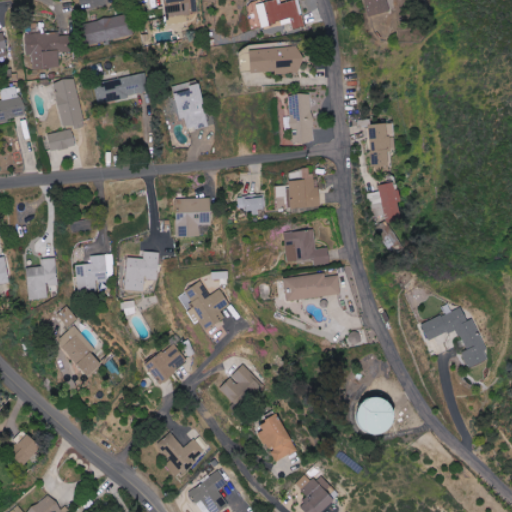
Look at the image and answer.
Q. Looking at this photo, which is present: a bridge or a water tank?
water tank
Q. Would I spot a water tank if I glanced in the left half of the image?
No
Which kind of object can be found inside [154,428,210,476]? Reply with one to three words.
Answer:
house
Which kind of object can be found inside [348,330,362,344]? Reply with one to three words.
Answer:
gazebo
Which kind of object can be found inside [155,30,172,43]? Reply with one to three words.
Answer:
swimming pool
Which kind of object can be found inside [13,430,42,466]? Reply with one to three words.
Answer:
house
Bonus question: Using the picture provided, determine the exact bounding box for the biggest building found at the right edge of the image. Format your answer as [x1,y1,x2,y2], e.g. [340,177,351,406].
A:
[422,304,490,366]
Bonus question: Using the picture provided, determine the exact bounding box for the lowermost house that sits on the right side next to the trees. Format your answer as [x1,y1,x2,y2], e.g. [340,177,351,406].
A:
[297,464,339,512]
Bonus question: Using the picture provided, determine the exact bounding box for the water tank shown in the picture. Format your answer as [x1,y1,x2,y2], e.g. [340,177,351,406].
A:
[357,398,394,434]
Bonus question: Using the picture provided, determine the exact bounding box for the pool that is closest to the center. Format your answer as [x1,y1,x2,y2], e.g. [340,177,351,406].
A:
[306,304,324,322]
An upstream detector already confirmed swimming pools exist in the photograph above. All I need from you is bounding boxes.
[132,315,148,338]
[306,304,324,322]
[34,94,44,116]
[155,30,172,43]
[82,330,97,347]
[173,122,188,144]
